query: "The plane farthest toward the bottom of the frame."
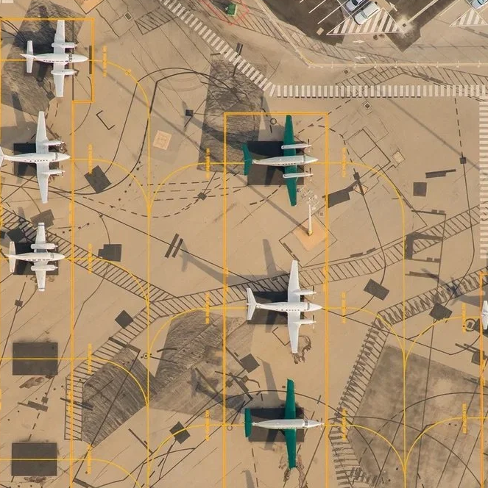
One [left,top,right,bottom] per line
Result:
[242,378,322,469]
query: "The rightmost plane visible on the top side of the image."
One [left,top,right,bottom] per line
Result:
[242,117,318,204]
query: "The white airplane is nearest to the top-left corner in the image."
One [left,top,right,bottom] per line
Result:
[19,22,88,94]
